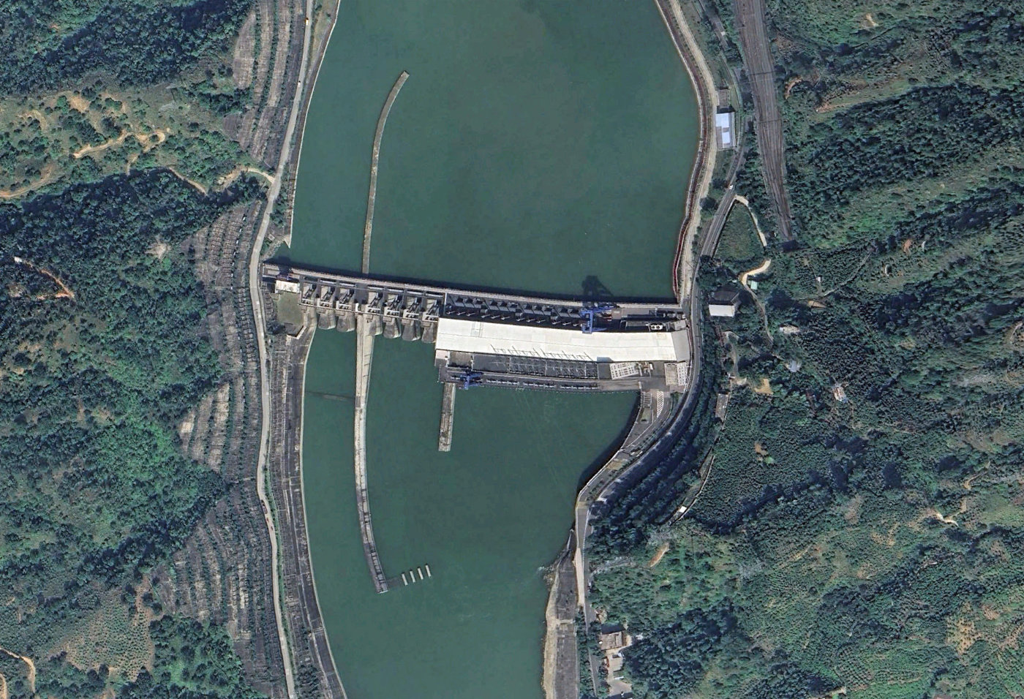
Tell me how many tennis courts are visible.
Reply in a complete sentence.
Not a single tennis court can be seen.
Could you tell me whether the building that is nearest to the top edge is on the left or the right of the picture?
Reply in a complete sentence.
You can find the building that is nearest to the top edge on the right side of the picture.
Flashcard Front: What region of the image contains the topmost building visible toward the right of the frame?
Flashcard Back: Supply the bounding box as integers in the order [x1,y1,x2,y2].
[716,112,736,147]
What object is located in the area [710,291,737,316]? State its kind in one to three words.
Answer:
building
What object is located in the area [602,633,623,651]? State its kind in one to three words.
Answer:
building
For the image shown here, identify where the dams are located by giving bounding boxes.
[262,264,689,344]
